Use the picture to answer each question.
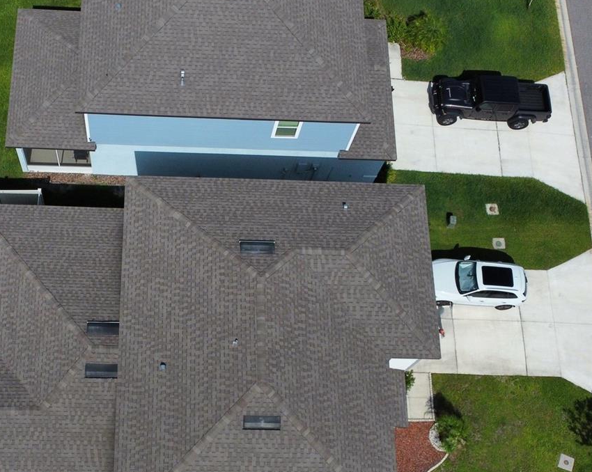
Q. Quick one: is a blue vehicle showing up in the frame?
No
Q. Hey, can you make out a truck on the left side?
No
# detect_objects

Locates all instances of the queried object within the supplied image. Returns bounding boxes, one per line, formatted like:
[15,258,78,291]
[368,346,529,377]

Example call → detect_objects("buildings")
[0,176,441,472]
[5,0,399,183]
